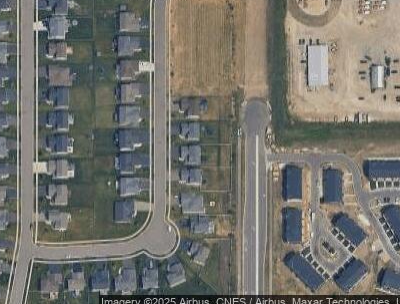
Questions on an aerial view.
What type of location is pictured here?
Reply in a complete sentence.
This image shows a residential area.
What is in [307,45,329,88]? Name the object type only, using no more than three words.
shed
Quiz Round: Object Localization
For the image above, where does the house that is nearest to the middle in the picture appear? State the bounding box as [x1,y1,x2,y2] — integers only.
[180,145,204,165]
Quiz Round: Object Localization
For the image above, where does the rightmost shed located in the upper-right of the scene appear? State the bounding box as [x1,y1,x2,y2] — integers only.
[371,65,384,91]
